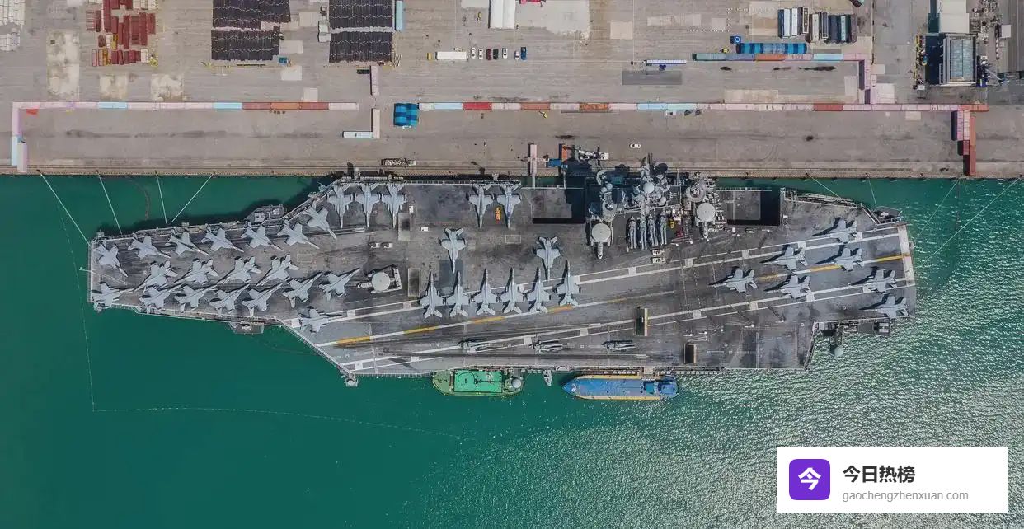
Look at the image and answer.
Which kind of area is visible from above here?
port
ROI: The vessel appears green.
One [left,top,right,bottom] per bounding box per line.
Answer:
[432,369,524,397]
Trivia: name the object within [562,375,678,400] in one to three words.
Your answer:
ship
